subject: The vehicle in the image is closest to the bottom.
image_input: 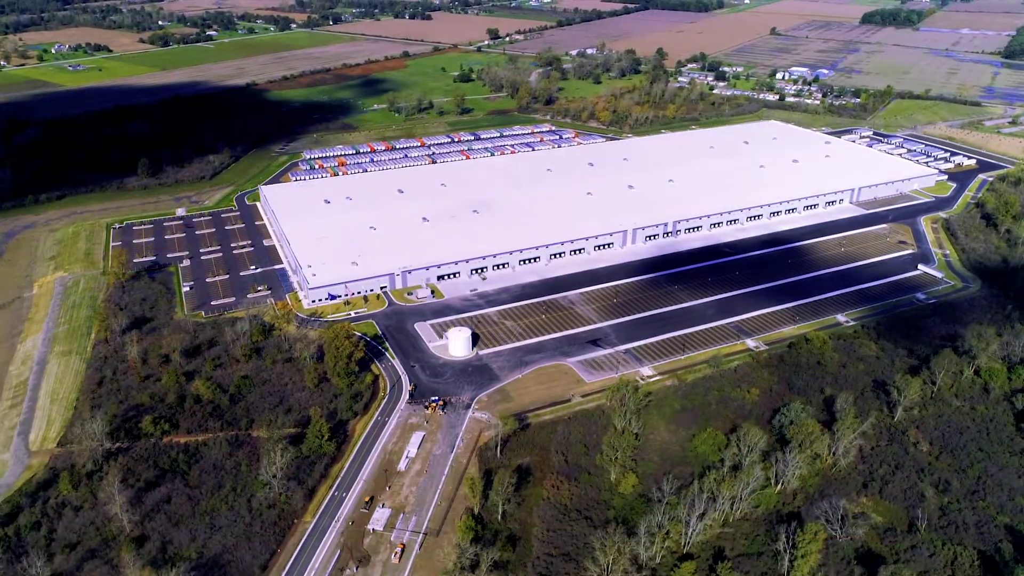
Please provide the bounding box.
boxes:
[390,541,406,560]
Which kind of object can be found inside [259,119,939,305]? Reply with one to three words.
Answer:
warehouse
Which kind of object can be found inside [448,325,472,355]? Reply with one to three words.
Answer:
water tank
